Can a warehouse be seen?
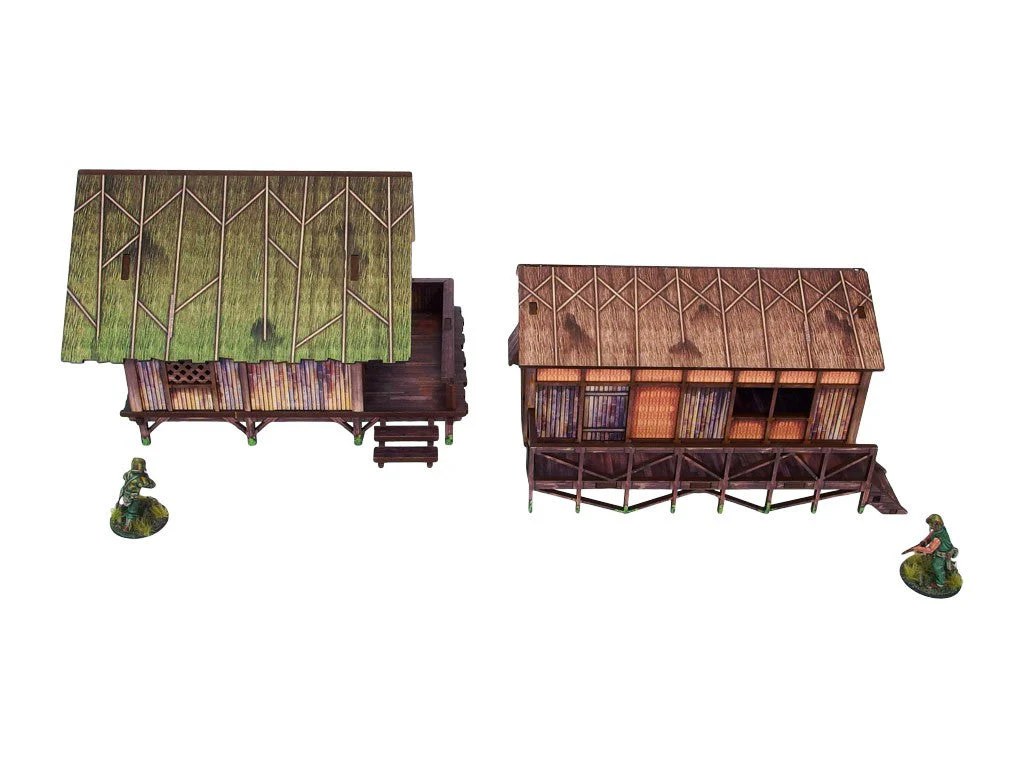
No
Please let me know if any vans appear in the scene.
No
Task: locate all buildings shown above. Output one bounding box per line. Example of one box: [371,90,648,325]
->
[508,264,907,513]
[59,170,469,467]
